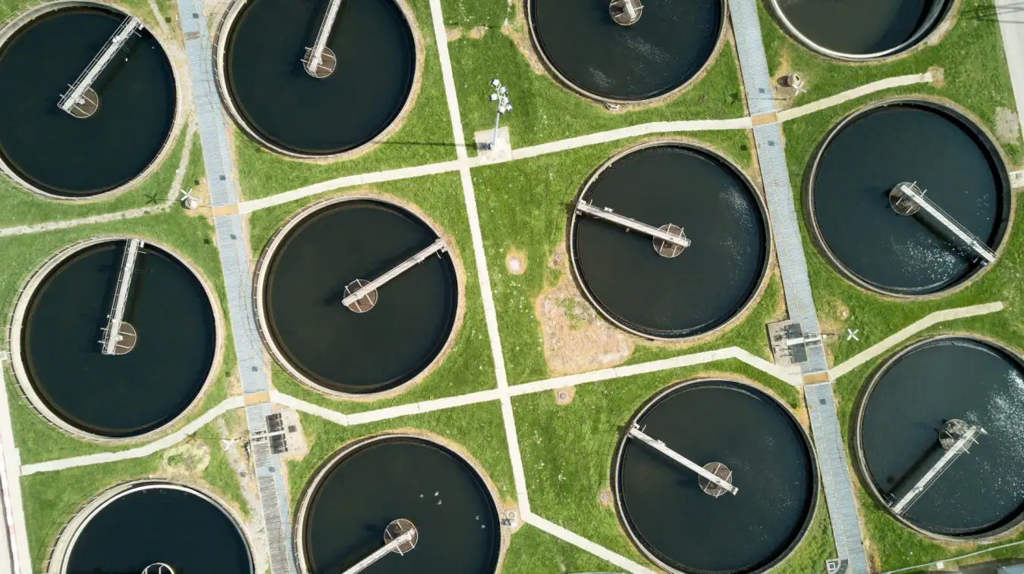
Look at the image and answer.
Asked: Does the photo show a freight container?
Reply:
No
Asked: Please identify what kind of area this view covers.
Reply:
industrial area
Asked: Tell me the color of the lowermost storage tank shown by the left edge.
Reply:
black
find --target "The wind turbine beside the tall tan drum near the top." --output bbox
[788,78,812,98]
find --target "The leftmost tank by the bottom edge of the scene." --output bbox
[46,477,260,574]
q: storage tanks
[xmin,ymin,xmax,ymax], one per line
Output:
[771,0,955,60]
[528,0,729,105]
[46,477,260,574]
[860,337,1024,541]
[0,0,182,201]
[616,379,822,574]
[254,193,461,398]
[295,435,503,574]
[6,235,220,443]
[214,0,420,160]
[570,138,774,341]
[810,96,1013,297]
